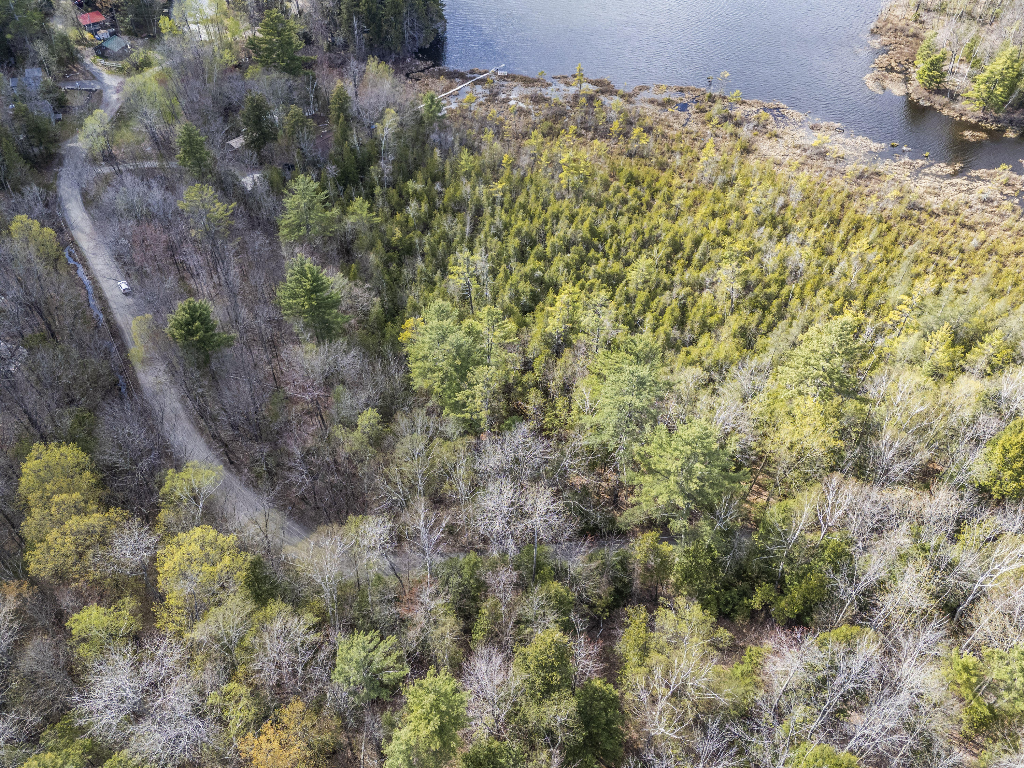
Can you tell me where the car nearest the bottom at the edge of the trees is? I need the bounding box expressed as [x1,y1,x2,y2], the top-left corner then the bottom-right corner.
[117,280,130,292]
